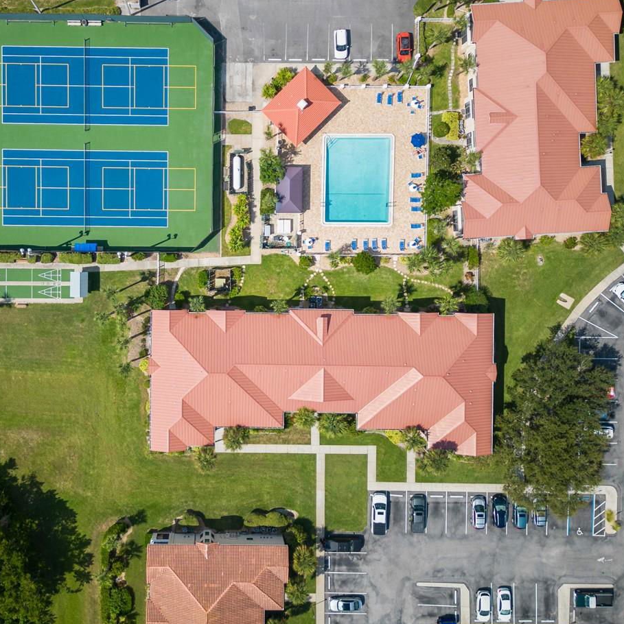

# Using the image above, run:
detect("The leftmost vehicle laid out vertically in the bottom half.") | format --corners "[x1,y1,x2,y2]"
[372,493,391,537]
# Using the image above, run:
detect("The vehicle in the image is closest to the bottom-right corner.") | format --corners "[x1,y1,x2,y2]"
[576,592,616,611]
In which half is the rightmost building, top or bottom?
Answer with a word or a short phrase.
top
